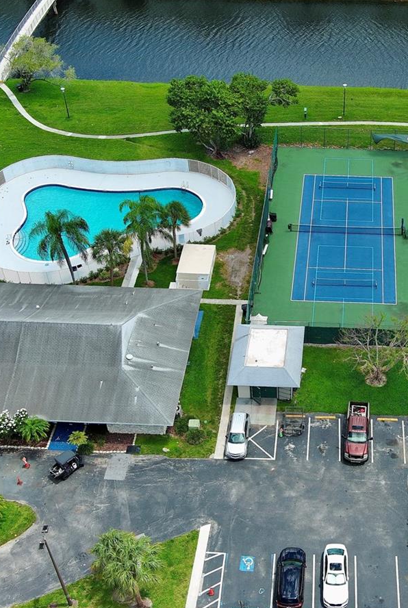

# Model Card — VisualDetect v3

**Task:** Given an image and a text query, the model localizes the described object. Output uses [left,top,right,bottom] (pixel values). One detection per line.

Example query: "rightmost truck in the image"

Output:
[344,405,372,460]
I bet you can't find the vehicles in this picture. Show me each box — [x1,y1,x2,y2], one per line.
[320,543,350,604]
[41,447,84,481]
[222,408,251,457]
[275,548,306,608]
[344,405,372,460]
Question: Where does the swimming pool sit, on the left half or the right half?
left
